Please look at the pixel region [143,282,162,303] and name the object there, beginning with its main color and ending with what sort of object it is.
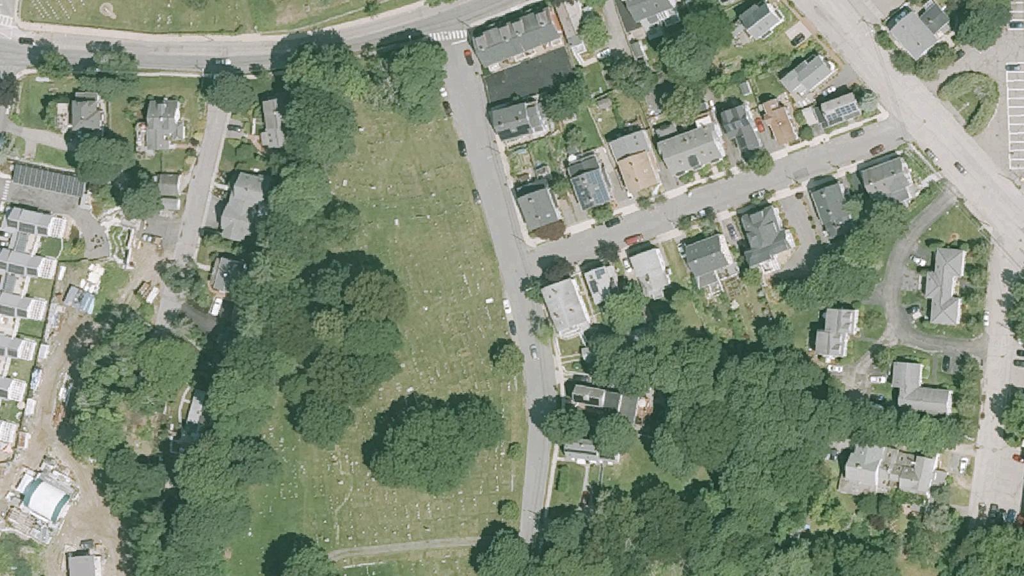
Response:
white vehicle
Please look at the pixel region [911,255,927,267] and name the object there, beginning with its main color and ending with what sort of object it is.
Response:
white vehicle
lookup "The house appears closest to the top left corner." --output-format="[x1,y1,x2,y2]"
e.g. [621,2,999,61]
[72,92,105,130]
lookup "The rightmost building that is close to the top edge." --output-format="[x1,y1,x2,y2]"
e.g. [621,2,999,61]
[890,3,951,60]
